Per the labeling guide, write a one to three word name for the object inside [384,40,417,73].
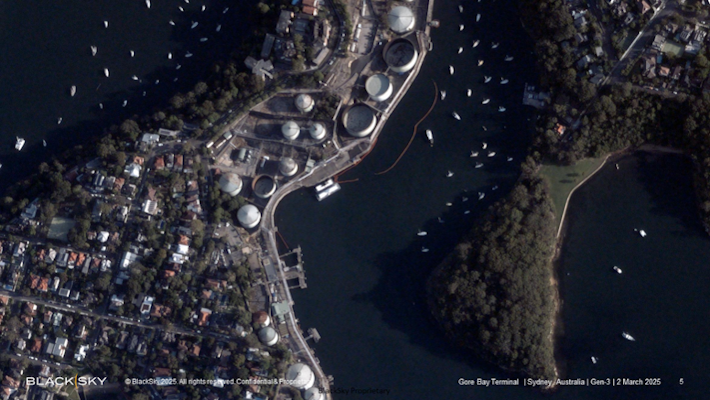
storage tank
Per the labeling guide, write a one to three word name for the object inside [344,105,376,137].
storage tank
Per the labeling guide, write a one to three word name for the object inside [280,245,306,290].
pier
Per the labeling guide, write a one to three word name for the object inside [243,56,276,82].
building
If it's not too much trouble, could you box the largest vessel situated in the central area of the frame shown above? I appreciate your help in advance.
[318,185,340,201]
